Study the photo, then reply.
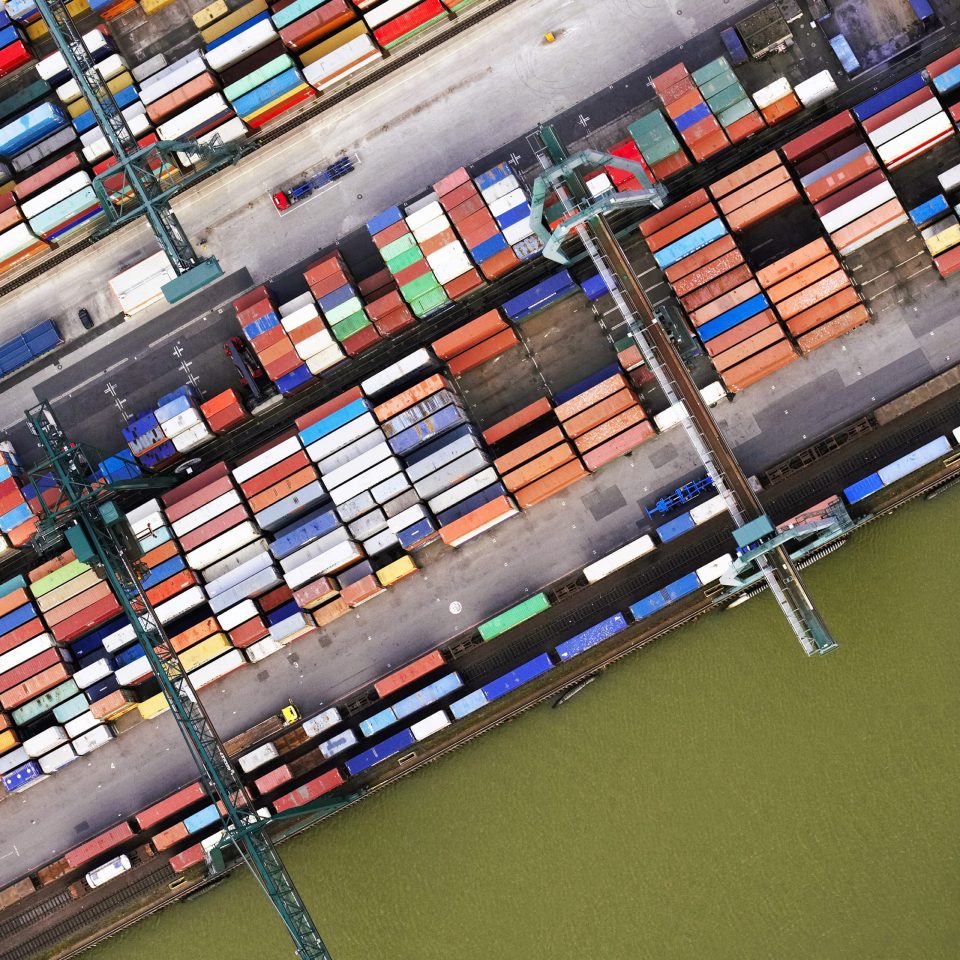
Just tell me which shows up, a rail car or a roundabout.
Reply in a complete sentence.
This aerial view contains a rail car.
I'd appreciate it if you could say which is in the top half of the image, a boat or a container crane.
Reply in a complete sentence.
What appears in the top half of the image is a container crane.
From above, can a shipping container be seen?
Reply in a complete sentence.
Yes, the frame does contain a shipping container.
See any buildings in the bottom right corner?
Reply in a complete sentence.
No, I can find no building in the bottom right corner.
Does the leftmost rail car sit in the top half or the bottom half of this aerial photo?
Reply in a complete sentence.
You can find the leftmost rail car in the bottom half.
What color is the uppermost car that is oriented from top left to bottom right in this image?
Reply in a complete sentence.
The uppermost car that is oriented from top left to bottom right is black.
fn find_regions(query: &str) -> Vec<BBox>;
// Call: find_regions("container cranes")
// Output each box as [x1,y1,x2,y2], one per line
[38,0,248,306]
[21,396,365,960]
[520,128,870,661]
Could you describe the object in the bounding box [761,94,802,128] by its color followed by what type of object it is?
red shipping container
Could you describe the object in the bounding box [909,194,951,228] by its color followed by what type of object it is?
blue shipping container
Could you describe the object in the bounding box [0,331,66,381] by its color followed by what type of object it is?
blue trailer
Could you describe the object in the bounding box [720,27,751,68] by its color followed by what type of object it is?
blue shipping container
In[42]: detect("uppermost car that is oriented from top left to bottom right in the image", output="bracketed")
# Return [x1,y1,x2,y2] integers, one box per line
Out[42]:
[77,306,98,331]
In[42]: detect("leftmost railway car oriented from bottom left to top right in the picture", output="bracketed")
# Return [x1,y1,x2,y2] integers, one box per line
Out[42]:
[0,878,38,913]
